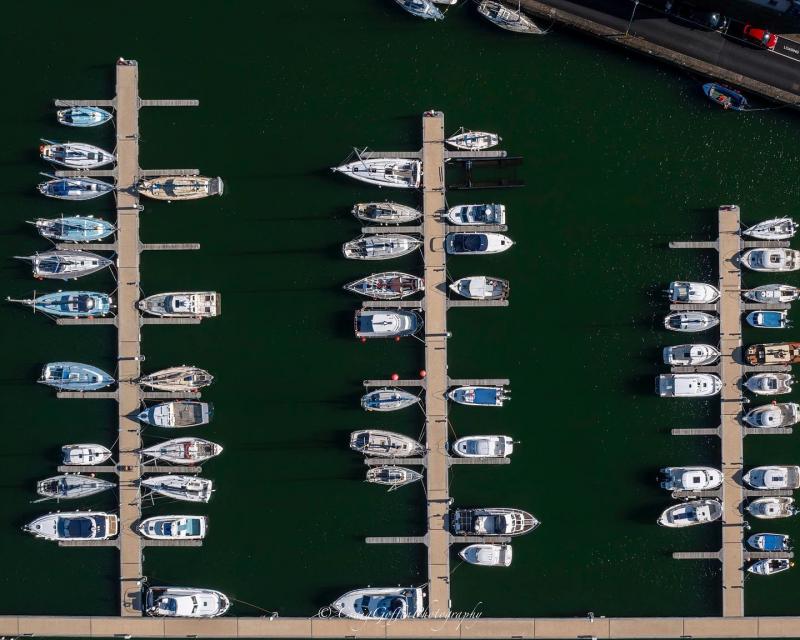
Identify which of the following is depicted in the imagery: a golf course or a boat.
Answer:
boat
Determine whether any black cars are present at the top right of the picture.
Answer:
Yes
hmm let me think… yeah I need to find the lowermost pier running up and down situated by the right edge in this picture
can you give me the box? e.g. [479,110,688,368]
[670,206,793,617]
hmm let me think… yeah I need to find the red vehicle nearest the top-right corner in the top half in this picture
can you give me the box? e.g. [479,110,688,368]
[741,26,779,52]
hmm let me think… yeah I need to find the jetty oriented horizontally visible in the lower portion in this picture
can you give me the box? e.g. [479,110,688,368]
[0,615,800,640]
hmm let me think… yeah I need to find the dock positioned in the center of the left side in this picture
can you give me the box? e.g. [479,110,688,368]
[55,59,203,616]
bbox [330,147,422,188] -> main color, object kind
white boat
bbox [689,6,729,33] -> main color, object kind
black car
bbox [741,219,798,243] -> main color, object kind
white boat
